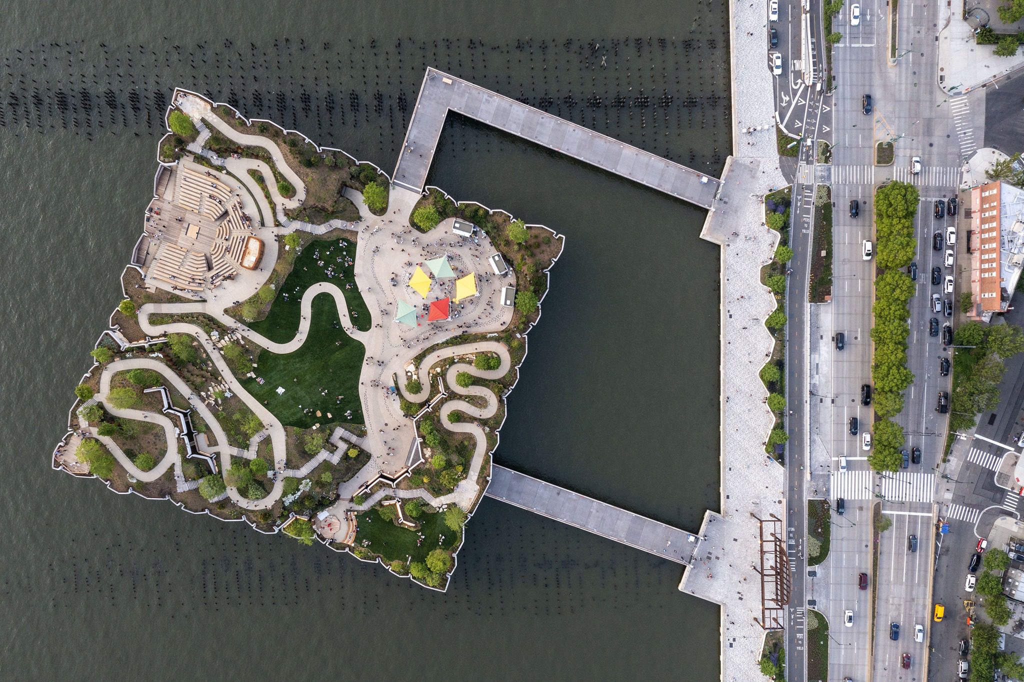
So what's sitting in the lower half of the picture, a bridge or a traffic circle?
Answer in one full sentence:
You can see a bridge in the lower half of the picture.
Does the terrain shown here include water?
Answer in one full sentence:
Yes, there is water in the image.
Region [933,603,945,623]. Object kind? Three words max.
vehicle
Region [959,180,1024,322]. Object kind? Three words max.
building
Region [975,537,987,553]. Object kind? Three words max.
vehicle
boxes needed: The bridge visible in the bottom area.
[484,463,702,567]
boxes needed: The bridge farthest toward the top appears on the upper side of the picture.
[391,67,722,210]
